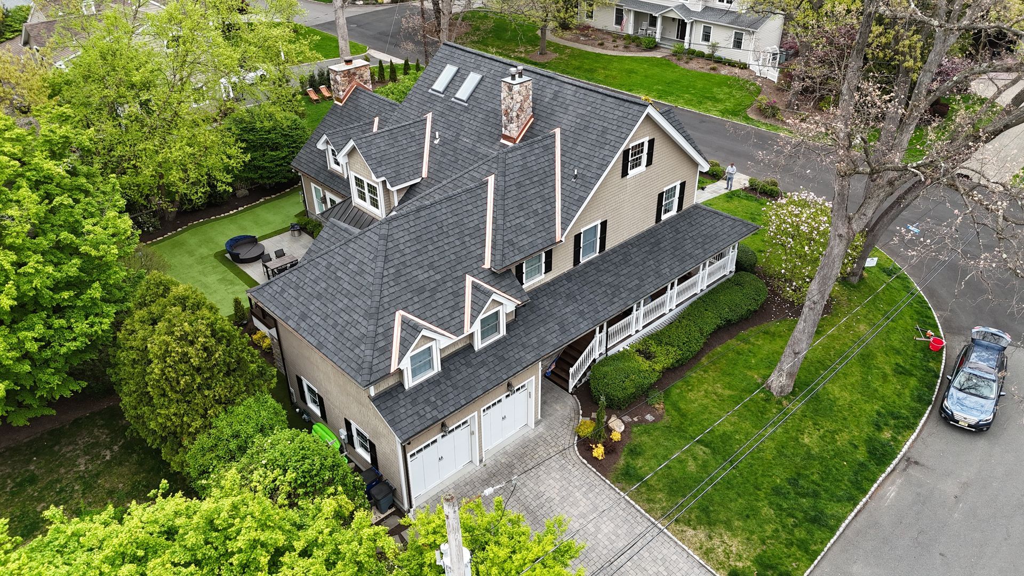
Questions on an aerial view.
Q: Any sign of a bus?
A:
No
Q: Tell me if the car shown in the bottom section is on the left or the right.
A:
right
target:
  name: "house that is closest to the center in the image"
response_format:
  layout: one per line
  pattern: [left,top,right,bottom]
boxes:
[240,42,759,510]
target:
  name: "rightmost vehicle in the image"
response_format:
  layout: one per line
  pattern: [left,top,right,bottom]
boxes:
[939,313,1014,433]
